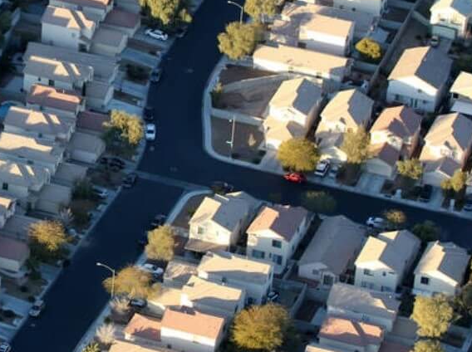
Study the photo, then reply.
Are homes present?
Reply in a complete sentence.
Yes, a home appears in the view.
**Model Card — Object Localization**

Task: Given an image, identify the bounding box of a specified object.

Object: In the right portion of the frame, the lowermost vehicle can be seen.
[361,212,389,229]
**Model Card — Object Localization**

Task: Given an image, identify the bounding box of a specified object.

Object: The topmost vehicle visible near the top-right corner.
[428,32,444,47]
